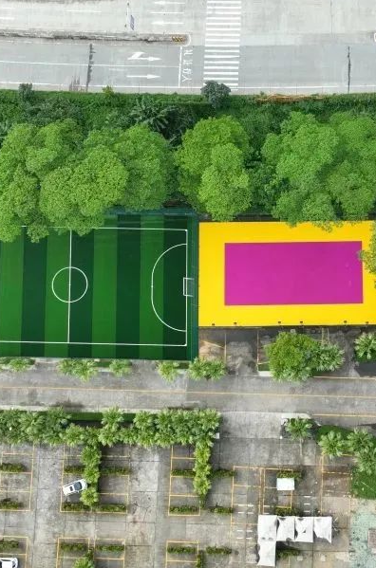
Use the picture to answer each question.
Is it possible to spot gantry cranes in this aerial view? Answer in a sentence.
No, there is no gantry crane in the image.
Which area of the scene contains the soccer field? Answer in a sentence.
The soccer field sits in the left section of the image.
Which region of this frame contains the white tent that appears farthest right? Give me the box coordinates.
[313,514,332,544]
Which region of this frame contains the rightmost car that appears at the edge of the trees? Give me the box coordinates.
[58,479,86,498]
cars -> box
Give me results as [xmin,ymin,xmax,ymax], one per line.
[0,559,19,568]
[58,479,86,498]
